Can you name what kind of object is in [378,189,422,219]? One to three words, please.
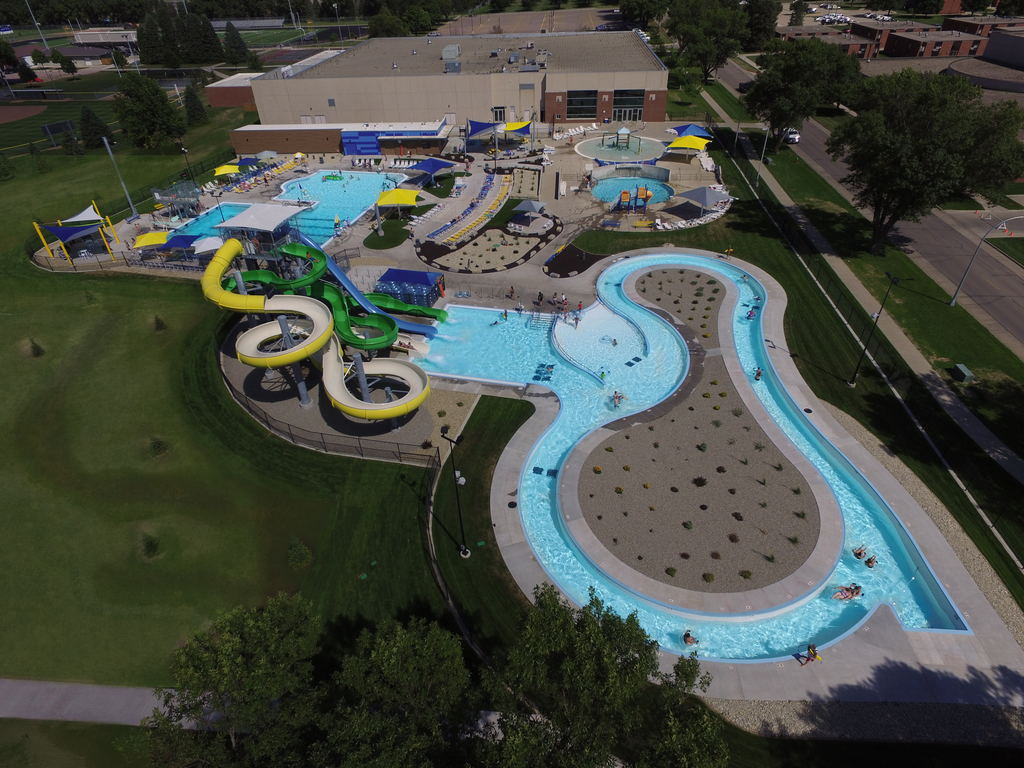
umbrella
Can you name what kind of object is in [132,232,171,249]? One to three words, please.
umbrella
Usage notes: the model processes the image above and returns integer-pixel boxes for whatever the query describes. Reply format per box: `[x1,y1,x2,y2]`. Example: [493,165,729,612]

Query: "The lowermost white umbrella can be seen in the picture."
[193,236,225,256]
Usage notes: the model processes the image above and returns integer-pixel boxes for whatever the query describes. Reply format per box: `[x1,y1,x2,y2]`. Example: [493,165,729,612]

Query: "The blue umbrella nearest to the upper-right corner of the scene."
[669,124,715,138]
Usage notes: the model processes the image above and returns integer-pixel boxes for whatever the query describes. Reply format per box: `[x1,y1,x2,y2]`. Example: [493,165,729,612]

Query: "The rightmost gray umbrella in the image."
[669,187,740,214]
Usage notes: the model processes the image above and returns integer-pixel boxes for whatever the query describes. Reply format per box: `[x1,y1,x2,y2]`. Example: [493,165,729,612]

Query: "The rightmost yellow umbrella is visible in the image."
[665,136,713,161]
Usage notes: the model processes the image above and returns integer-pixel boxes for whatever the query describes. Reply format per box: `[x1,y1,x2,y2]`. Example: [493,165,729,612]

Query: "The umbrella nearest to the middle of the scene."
[510,200,548,225]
